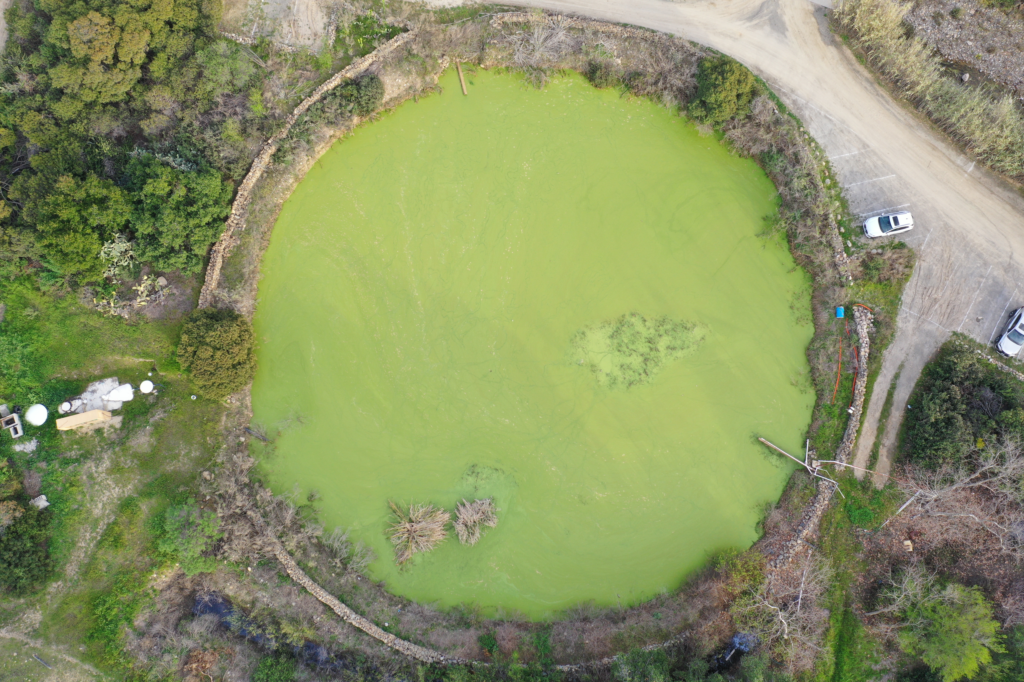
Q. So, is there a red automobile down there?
No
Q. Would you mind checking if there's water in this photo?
Yes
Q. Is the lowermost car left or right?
right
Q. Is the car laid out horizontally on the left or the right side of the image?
right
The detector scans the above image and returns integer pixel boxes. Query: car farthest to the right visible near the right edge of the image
[996,305,1024,356]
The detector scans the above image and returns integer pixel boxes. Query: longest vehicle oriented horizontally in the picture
[861,208,918,239]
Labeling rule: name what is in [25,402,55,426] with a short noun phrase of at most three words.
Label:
water tank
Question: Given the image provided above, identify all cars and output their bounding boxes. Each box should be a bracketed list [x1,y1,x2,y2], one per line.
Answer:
[996,305,1024,356]
[861,208,918,239]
